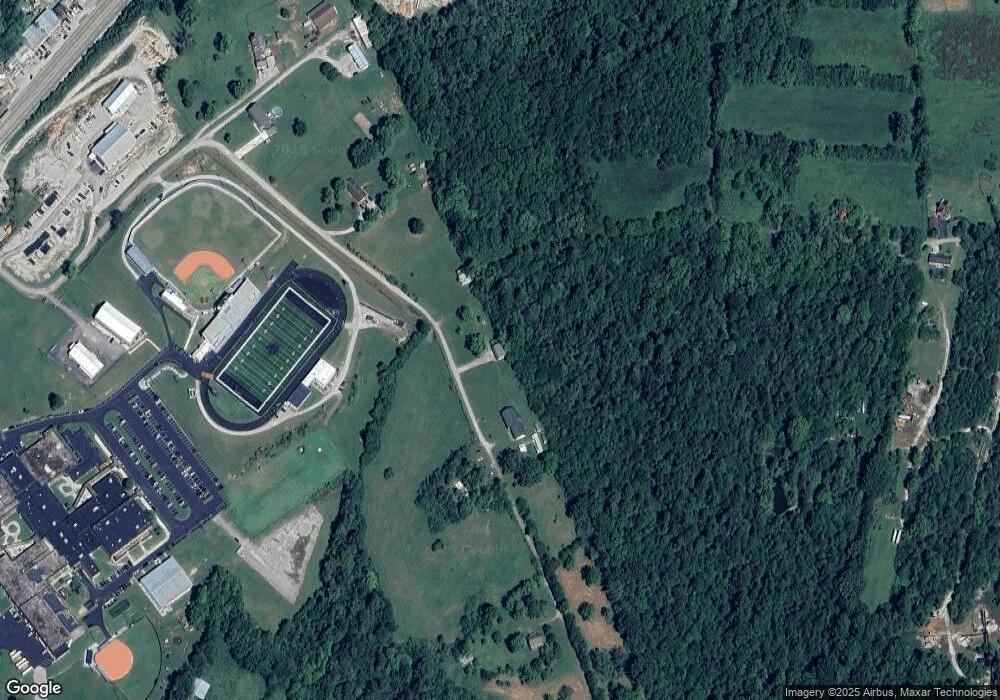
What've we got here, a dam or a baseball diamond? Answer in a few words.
baseball diamond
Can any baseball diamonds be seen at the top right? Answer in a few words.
No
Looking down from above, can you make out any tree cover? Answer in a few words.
Yes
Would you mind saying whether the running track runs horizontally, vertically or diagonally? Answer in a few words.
diagonally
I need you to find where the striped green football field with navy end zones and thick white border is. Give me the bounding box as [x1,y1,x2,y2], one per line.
[213,283,336,417]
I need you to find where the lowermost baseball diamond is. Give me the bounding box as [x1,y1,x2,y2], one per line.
[95,618,160,700]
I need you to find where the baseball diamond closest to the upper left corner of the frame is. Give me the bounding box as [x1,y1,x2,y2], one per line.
[134,179,281,309]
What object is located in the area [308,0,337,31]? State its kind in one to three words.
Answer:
barn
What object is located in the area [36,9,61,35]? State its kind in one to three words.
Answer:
building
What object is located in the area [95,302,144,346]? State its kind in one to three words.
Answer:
shed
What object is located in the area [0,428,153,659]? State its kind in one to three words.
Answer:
building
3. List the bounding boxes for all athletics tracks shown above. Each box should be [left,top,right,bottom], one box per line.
[201,259,348,432]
